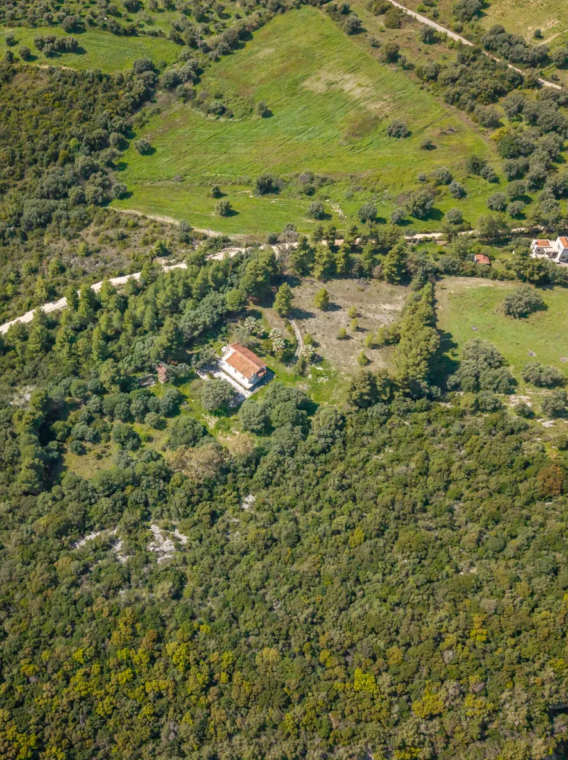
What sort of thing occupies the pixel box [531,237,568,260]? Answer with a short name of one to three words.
house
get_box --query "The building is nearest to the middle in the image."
[217,344,270,393]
